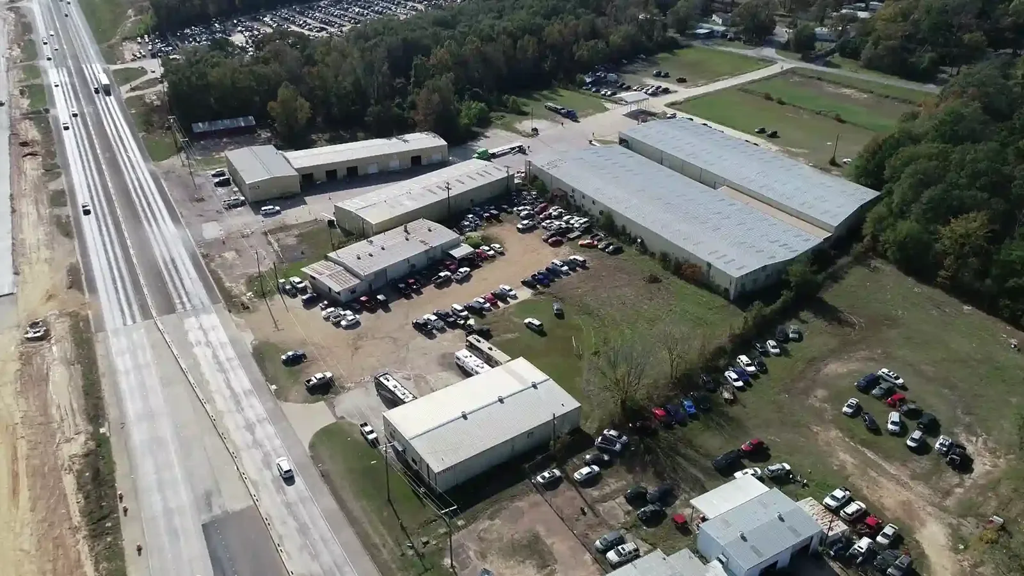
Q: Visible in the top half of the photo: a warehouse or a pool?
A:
warehouse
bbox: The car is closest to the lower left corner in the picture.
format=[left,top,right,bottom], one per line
[275,457,296,484]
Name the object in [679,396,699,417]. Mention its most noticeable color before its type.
blue car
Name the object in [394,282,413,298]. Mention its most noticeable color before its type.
black vehicle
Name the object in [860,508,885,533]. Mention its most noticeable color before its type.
red work vehicle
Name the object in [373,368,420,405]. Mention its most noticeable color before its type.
white camper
